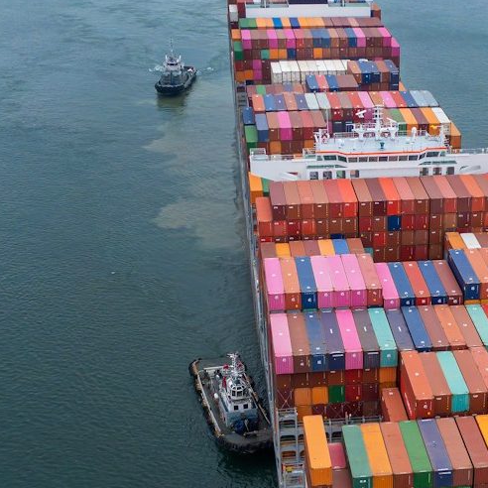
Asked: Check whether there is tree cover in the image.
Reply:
No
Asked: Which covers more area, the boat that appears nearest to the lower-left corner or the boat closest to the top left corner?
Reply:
the boat that appears nearest to the lower-left corner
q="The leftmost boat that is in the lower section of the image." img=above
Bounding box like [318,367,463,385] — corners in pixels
[187,340,274,463]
